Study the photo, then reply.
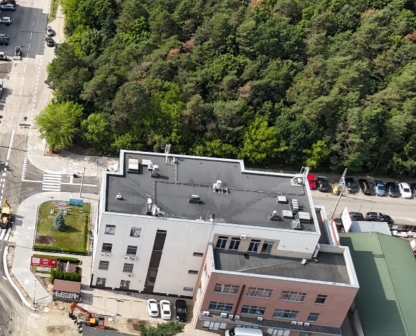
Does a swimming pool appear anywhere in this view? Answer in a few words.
No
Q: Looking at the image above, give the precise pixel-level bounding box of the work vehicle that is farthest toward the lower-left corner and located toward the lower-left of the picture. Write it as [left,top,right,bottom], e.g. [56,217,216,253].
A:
[66,304,105,329]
